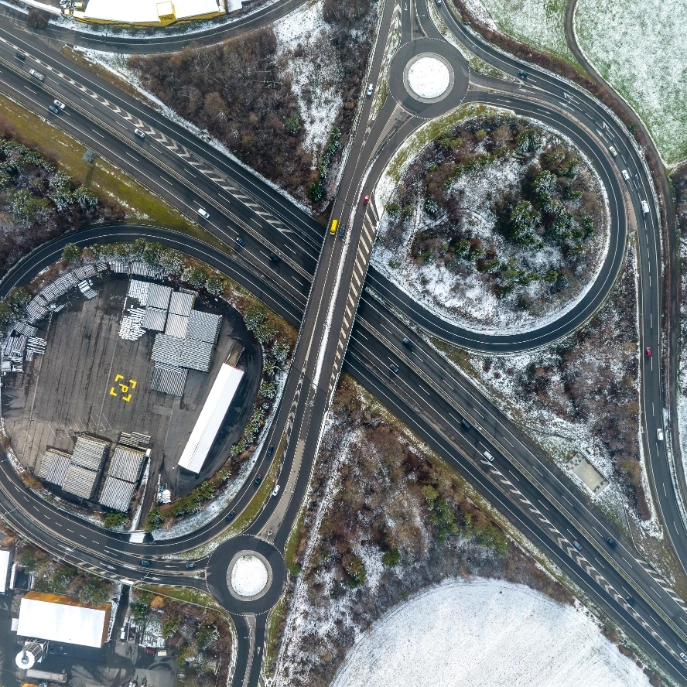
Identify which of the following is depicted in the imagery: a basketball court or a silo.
silo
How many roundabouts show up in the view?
2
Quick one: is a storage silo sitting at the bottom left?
Yes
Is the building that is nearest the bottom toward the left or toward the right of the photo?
left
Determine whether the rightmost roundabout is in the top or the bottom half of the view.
top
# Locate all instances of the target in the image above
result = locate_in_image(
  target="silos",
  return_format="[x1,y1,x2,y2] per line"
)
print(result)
[15,637,53,665]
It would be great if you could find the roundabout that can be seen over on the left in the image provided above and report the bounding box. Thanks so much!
[207,535,286,614]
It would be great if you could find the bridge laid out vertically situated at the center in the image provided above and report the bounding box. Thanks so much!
[286,193,381,397]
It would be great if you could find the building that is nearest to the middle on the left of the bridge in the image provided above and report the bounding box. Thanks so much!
[178,362,247,474]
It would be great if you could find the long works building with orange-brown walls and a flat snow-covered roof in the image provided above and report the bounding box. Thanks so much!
[11,592,112,648]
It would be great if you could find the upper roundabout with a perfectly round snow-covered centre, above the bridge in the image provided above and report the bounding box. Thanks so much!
[390,39,469,117]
